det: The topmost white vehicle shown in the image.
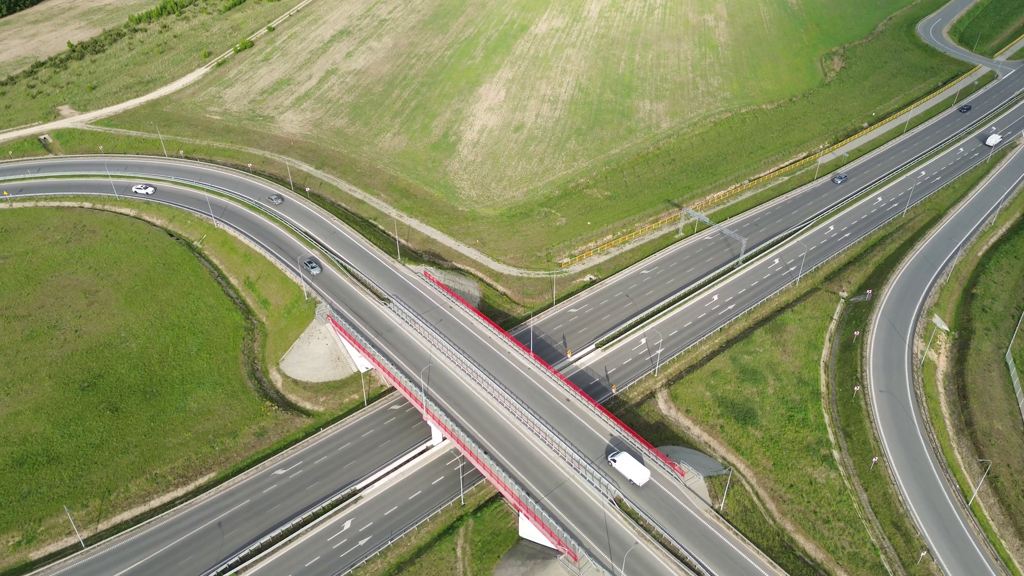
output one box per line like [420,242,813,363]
[987,131,1004,144]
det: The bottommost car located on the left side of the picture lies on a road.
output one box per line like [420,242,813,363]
[302,258,321,274]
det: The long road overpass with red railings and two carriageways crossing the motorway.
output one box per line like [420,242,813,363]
[330,275,678,552]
